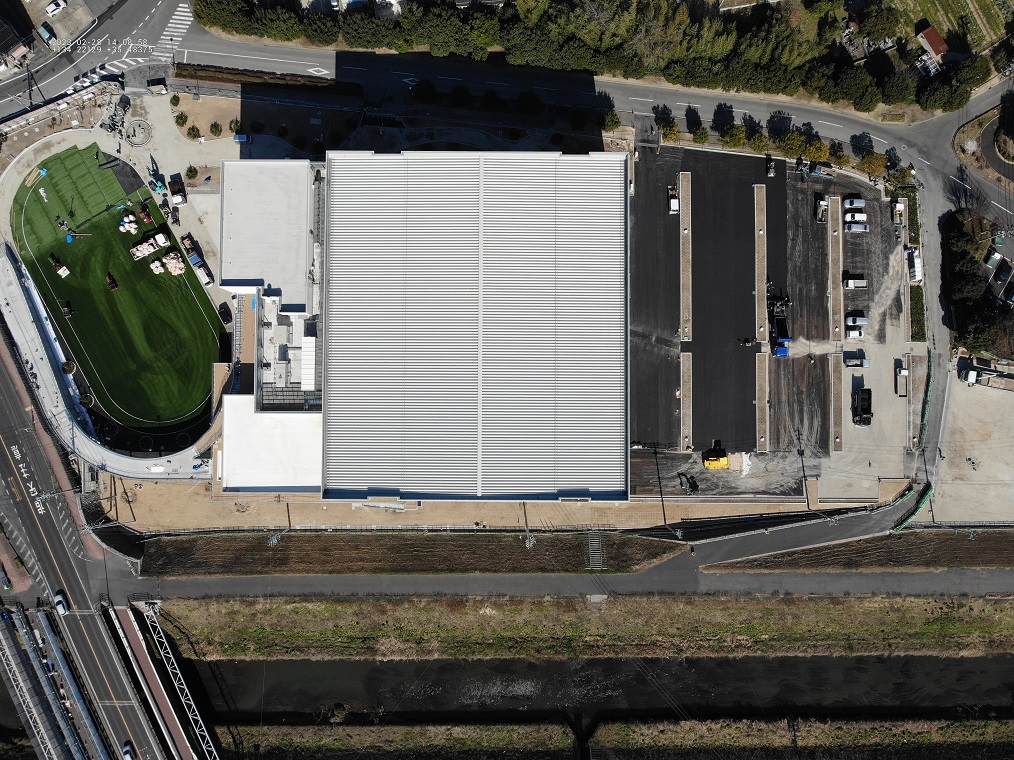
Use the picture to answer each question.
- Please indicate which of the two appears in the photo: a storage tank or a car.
car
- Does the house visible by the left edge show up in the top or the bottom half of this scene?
top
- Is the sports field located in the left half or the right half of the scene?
left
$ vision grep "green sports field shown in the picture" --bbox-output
[11,142,225,434]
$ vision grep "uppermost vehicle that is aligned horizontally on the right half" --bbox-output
[810,164,837,180]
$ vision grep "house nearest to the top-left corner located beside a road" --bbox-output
[0,19,41,71]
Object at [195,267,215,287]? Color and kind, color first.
white vehicle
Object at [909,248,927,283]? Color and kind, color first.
white vehicle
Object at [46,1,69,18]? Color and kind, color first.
white car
